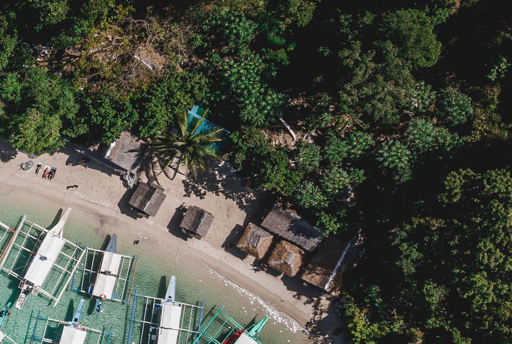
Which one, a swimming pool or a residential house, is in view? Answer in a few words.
residential house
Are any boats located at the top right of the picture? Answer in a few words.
No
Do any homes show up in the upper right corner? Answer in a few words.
No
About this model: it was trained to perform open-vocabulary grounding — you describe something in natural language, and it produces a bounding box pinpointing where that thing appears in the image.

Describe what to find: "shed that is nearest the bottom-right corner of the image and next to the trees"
[295,233,365,298]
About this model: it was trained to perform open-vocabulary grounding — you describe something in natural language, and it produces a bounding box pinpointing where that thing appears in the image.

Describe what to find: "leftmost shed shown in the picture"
[86,134,143,172]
